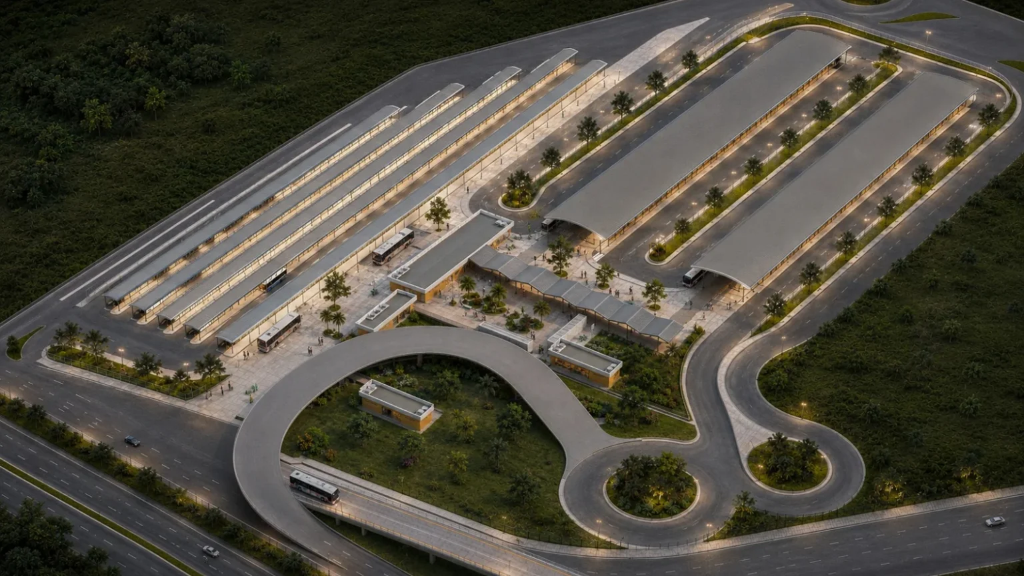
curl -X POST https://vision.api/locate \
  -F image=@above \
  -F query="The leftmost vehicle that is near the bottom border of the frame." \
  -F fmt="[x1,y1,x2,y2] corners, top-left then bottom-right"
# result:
[199,542,222,559]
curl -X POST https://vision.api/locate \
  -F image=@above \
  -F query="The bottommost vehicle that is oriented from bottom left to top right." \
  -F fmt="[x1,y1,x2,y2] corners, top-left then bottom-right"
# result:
[252,310,300,351]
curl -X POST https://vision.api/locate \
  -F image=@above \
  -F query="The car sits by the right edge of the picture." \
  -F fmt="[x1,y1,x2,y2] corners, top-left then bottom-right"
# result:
[982,514,1008,527]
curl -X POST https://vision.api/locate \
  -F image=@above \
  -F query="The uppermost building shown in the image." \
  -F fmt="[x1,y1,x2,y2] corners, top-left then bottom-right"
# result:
[388,209,515,304]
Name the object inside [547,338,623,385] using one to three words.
building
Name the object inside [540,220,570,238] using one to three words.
vehicle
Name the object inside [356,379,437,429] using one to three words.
building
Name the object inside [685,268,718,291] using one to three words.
bus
